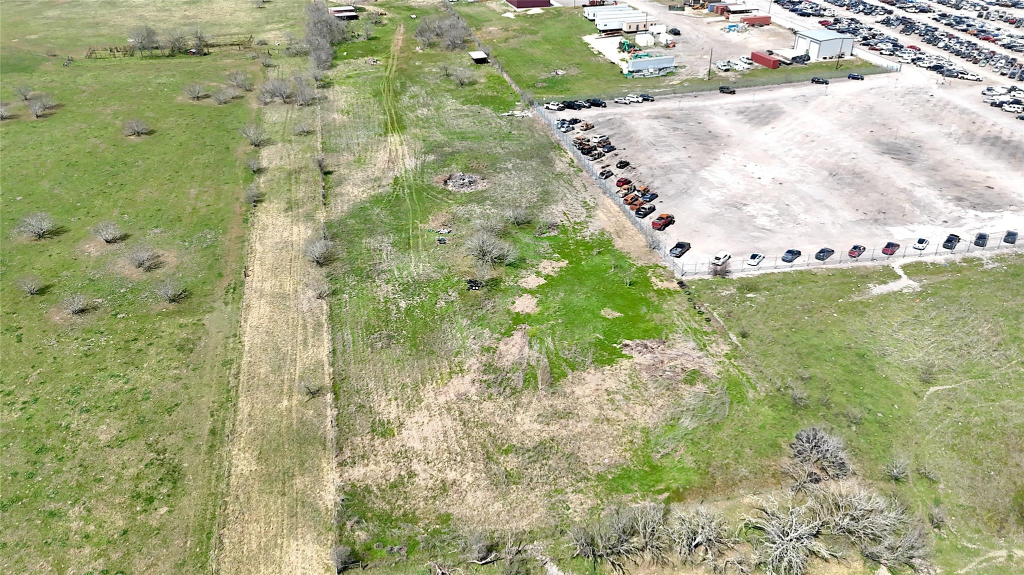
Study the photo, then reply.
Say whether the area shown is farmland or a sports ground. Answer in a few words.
farmland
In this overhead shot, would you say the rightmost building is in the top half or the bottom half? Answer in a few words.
top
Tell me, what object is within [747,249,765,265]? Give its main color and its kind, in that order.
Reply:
white car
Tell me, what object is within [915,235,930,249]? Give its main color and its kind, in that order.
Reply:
white car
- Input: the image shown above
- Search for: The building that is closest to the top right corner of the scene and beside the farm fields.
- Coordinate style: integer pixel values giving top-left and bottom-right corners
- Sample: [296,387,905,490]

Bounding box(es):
[796,26,859,58]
